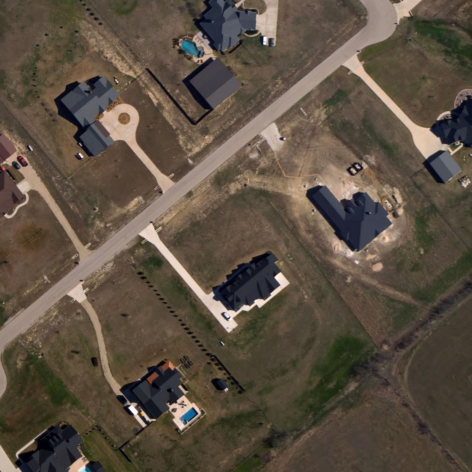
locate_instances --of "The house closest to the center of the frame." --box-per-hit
[218,251,284,312]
